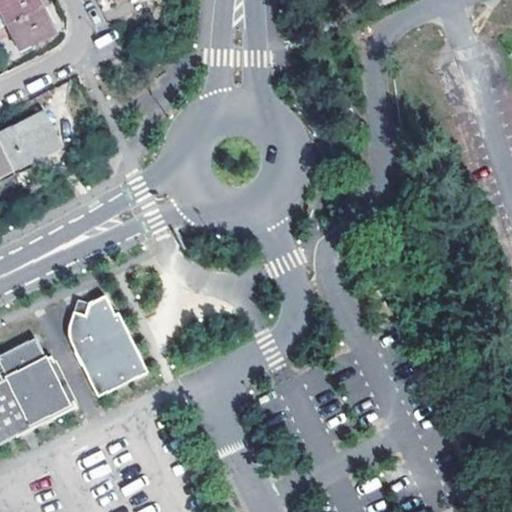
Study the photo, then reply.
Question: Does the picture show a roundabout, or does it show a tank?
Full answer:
Looking from above, you can make out a roundabout.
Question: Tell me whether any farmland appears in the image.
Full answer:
No, there is no farmland in the image.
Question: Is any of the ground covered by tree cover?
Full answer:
Yes, some tree cover is visible.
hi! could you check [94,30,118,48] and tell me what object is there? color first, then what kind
white vehicle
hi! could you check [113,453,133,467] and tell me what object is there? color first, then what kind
white car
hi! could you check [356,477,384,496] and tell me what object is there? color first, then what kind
white vehicle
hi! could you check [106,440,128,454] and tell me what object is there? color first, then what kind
white car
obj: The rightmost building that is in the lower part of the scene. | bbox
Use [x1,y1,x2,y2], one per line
[68,295,146,396]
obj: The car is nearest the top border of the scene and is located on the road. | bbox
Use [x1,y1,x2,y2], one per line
[85,2,101,24]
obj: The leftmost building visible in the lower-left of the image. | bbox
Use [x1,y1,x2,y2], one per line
[0,338,76,444]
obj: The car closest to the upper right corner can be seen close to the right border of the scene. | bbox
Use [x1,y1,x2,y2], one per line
[472,166,492,179]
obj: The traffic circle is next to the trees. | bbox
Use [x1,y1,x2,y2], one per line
[161,84,315,238]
